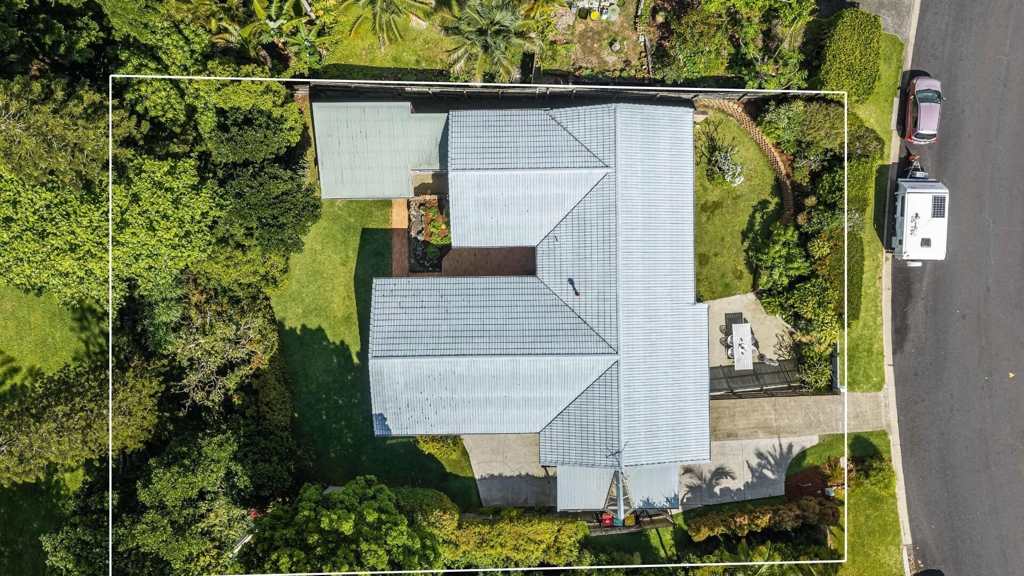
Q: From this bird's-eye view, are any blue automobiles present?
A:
No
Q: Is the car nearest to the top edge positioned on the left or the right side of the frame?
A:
right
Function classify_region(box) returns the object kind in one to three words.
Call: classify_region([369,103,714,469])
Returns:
house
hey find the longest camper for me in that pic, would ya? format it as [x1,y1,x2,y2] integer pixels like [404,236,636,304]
[888,158,947,265]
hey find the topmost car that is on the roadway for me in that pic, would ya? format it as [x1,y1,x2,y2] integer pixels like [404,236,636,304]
[901,76,946,146]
